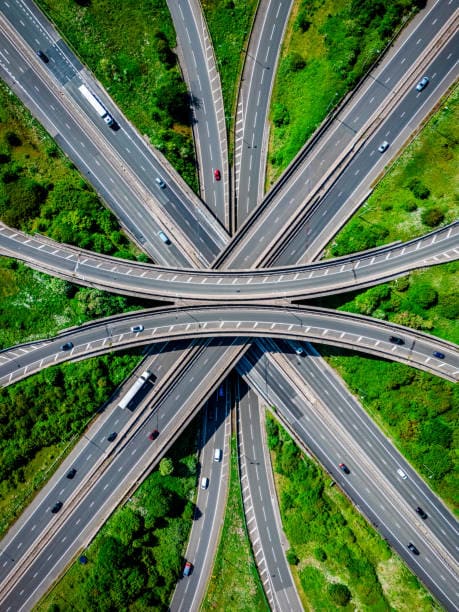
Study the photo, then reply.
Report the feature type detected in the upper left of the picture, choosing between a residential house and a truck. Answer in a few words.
truck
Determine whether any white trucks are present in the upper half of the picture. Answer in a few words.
Yes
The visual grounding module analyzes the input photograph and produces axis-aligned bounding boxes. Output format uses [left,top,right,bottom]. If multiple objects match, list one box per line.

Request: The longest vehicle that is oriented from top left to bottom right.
[78,84,114,127]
